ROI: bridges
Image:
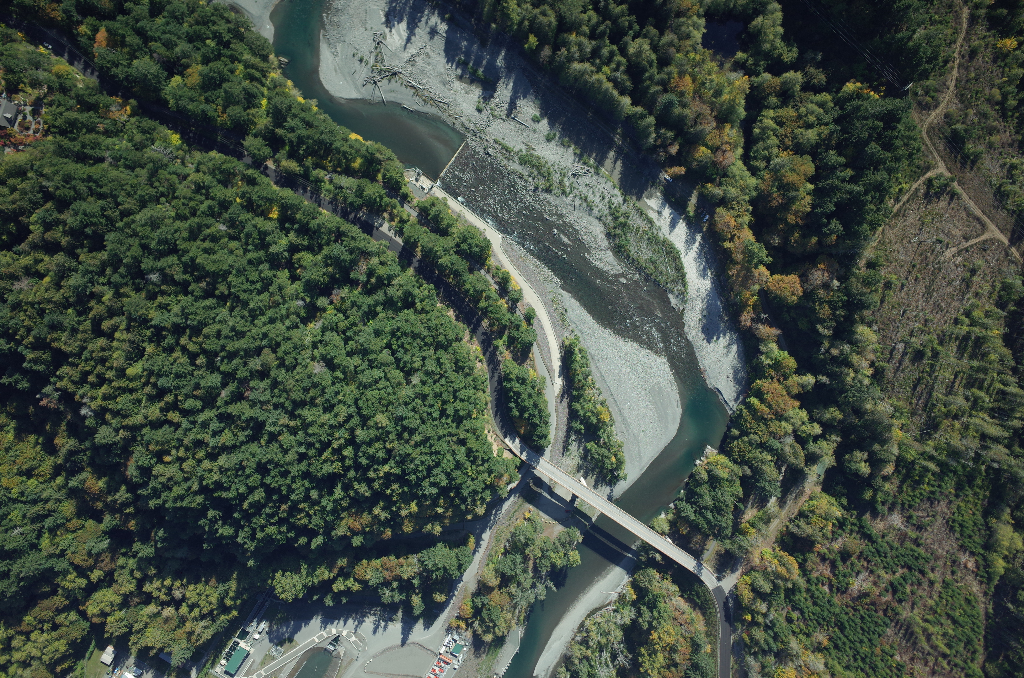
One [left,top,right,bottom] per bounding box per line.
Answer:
[507,435,722,591]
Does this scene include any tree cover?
Yes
